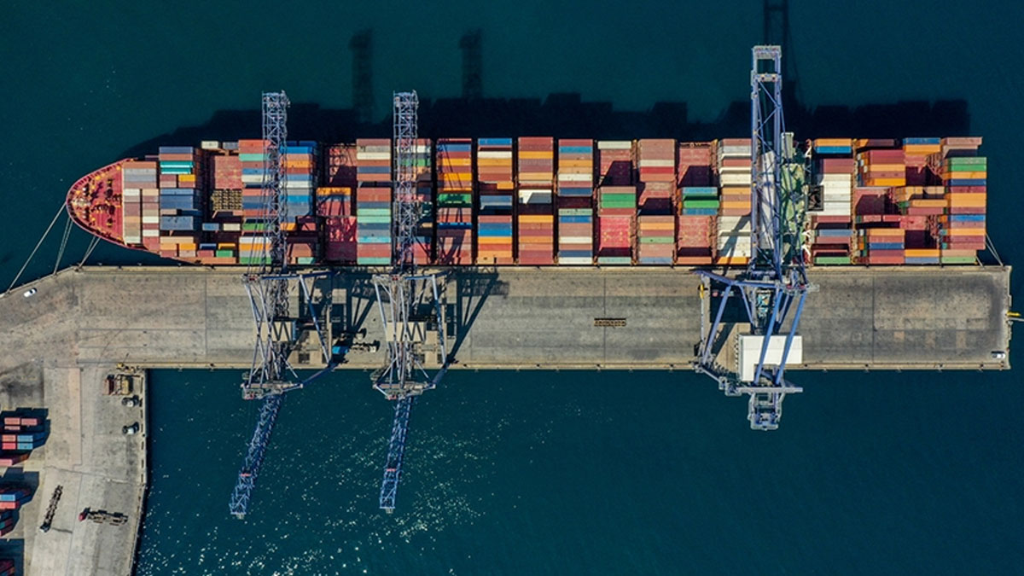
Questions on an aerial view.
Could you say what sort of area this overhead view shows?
port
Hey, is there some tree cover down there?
No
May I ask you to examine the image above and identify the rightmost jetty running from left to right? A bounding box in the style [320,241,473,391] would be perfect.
[79,264,1012,371]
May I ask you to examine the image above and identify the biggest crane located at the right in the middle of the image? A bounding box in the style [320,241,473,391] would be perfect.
[687,45,822,431]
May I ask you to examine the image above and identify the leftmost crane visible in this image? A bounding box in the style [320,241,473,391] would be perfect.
[227,90,342,516]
